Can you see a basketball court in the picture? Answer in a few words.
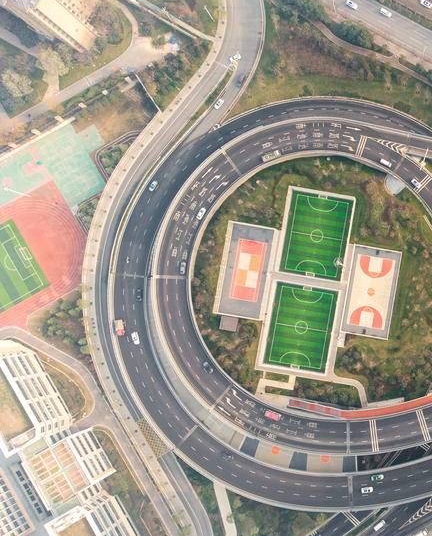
Yes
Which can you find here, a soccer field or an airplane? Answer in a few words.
soccer field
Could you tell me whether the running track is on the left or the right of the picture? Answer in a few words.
left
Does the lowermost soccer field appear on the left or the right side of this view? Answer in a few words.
right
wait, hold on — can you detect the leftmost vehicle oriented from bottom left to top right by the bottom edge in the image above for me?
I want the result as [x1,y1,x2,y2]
[372,520,387,534]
